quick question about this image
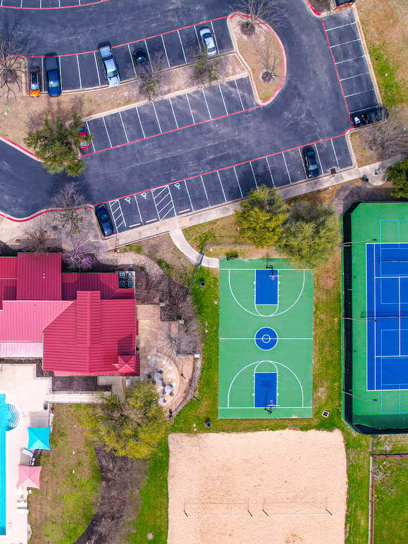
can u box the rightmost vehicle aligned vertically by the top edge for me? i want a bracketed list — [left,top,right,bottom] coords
[199,27,216,58]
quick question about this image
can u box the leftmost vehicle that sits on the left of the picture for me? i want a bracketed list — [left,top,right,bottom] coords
[28,69,42,94]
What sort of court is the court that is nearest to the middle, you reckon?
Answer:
basketball court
